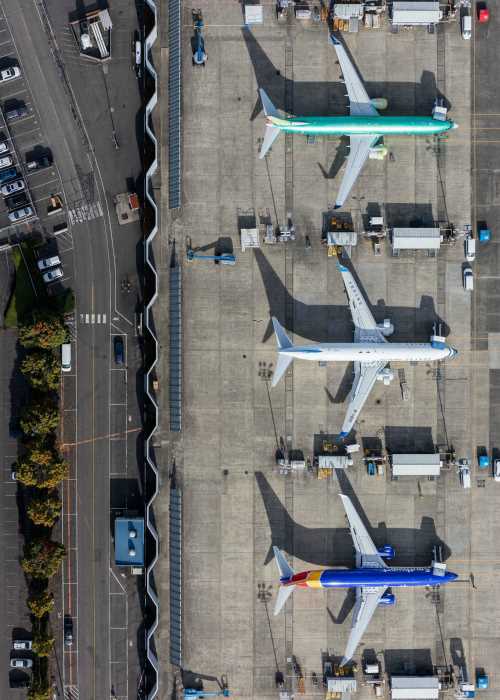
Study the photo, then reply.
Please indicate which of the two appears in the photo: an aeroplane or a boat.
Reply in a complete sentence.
It is an aeroplane that can be seen here.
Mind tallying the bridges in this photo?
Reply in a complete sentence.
The picture shows no bridges.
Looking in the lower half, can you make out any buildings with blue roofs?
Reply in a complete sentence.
Yes, a building with a blue roof can be seen in the lower half.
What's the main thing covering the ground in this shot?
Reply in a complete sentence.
The bulk of the photo consists of paved ground.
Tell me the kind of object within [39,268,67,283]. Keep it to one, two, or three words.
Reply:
vehicle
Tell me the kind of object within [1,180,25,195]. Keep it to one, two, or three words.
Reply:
car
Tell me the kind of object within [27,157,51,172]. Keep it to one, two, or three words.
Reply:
car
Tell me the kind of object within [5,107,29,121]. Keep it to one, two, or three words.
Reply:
vehicle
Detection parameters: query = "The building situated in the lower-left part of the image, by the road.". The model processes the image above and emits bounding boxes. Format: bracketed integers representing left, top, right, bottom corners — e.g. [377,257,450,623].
[115,519,145,565]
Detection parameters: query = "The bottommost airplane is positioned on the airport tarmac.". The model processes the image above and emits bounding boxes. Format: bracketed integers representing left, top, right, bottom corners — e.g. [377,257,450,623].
[273,492,458,664]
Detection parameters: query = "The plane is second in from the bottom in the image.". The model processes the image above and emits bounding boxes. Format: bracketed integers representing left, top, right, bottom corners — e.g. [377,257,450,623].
[272,265,457,437]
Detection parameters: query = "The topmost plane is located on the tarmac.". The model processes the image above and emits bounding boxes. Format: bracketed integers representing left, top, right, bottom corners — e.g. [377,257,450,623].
[259,36,457,210]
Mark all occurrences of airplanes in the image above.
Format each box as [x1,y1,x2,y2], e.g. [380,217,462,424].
[272,265,457,437]
[273,492,458,664]
[259,36,457,210]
